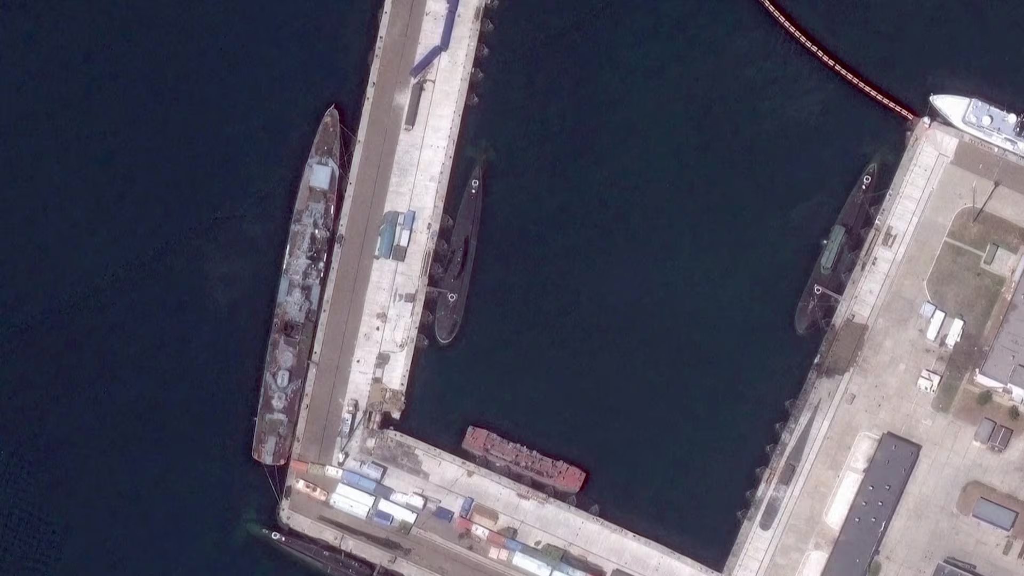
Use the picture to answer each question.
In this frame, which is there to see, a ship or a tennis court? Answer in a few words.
ship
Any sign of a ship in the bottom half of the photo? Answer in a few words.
Yes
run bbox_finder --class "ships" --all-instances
[252,103,340,466]
[260,528,391,576]
[436,167,480,345]
[463,425,586,493]
[795,165,875,336]
[929,94,1024,159]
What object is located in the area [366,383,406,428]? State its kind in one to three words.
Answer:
shed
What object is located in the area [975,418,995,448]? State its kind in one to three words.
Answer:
building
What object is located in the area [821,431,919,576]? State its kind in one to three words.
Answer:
building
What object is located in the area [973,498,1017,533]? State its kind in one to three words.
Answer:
house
